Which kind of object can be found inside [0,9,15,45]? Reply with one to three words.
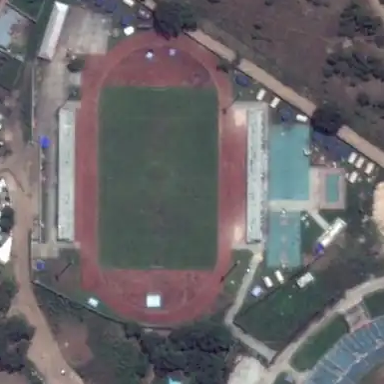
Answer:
shed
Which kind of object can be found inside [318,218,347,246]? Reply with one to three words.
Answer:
building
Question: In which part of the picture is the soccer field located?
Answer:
center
